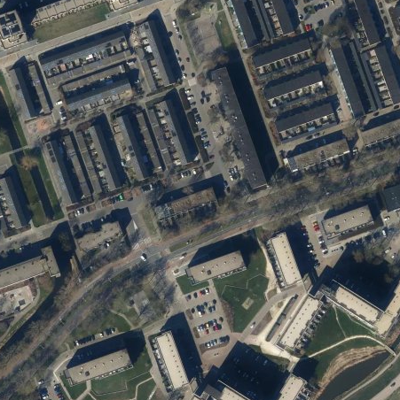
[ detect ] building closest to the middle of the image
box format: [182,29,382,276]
[155,188,218,220]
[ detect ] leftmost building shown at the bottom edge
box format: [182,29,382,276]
[68,350,132,387]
